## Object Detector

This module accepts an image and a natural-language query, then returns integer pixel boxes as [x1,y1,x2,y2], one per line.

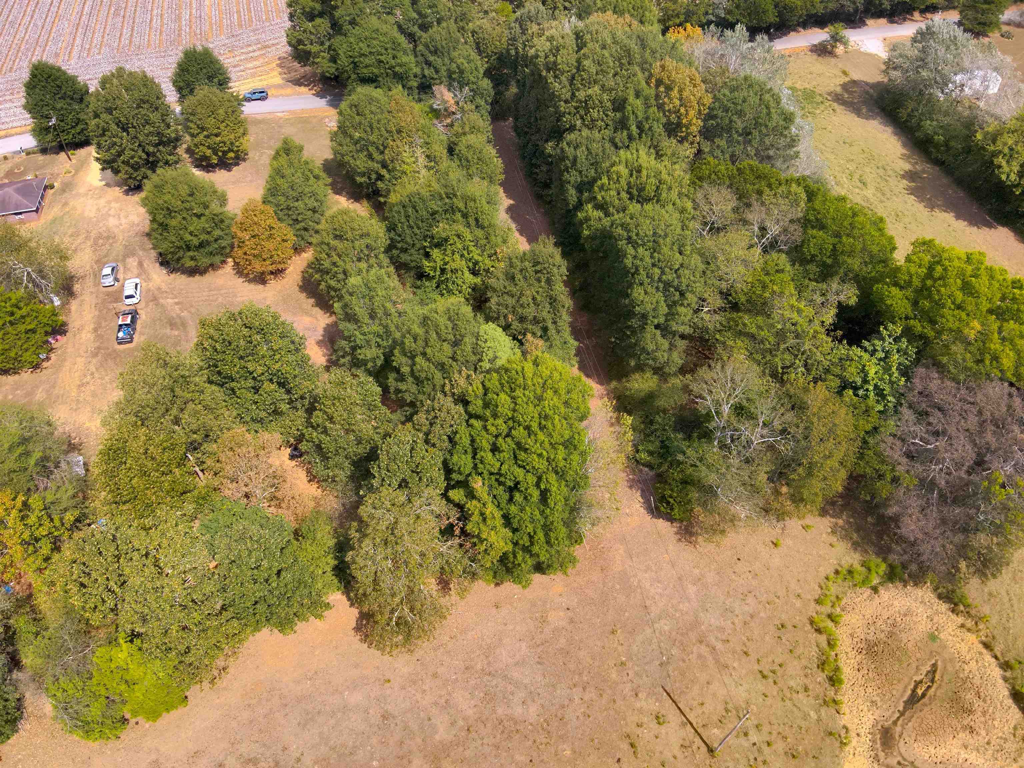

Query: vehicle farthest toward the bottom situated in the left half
[114,311,142,347]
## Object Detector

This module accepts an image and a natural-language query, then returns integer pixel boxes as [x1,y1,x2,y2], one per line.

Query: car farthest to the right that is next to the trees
[242,87,268,102]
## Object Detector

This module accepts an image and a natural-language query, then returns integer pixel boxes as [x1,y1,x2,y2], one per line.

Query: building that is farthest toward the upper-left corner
[0,177,51,232]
